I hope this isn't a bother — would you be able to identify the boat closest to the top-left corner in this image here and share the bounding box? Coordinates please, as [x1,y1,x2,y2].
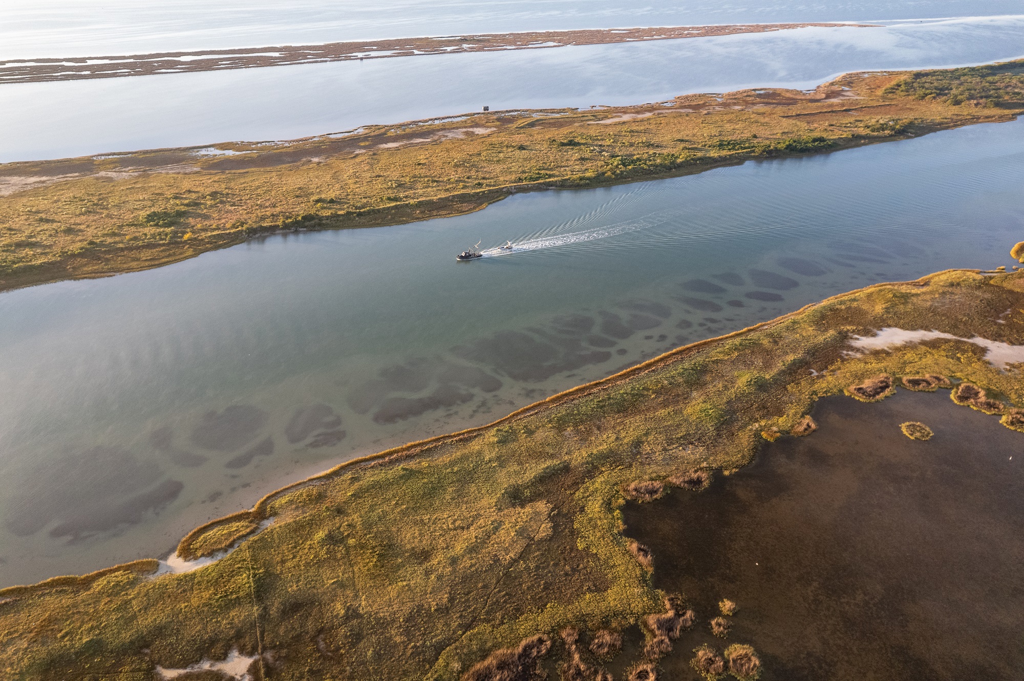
[456,236,483,258]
